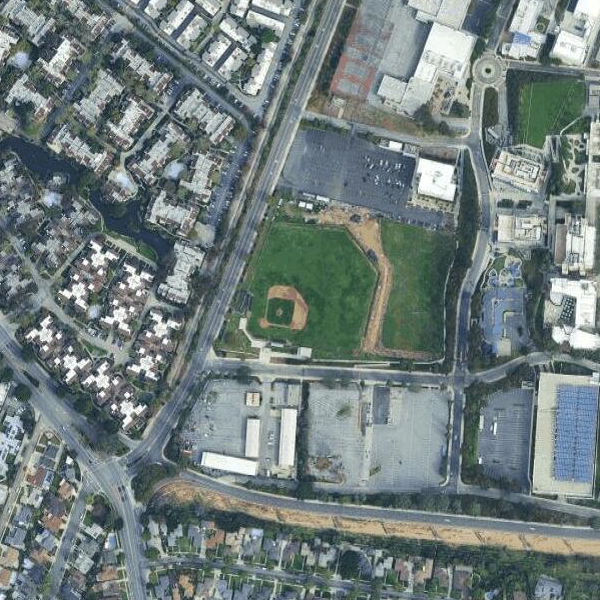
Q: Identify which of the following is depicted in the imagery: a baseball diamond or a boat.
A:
baseball diamond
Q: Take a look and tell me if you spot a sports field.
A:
Yes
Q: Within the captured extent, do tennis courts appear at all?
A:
Yes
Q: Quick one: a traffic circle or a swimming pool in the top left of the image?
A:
swimming pool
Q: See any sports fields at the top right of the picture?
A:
Yes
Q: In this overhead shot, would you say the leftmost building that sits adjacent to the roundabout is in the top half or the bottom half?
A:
top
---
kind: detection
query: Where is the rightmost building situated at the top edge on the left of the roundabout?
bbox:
[377,0,479,115]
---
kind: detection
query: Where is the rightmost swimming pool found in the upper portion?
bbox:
[164,157,184,179]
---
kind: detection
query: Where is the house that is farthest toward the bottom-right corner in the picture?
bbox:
[536,578,562,600]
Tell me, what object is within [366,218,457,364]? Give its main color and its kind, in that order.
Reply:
green sports field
